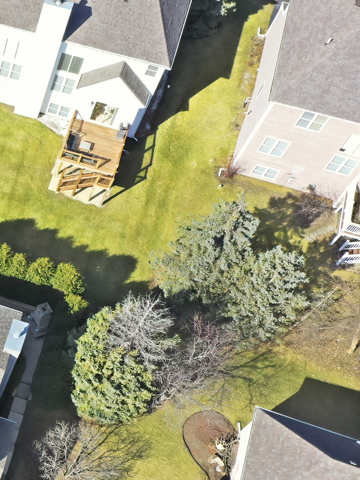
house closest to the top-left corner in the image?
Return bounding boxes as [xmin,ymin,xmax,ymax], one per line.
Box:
[0,0,193,152]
